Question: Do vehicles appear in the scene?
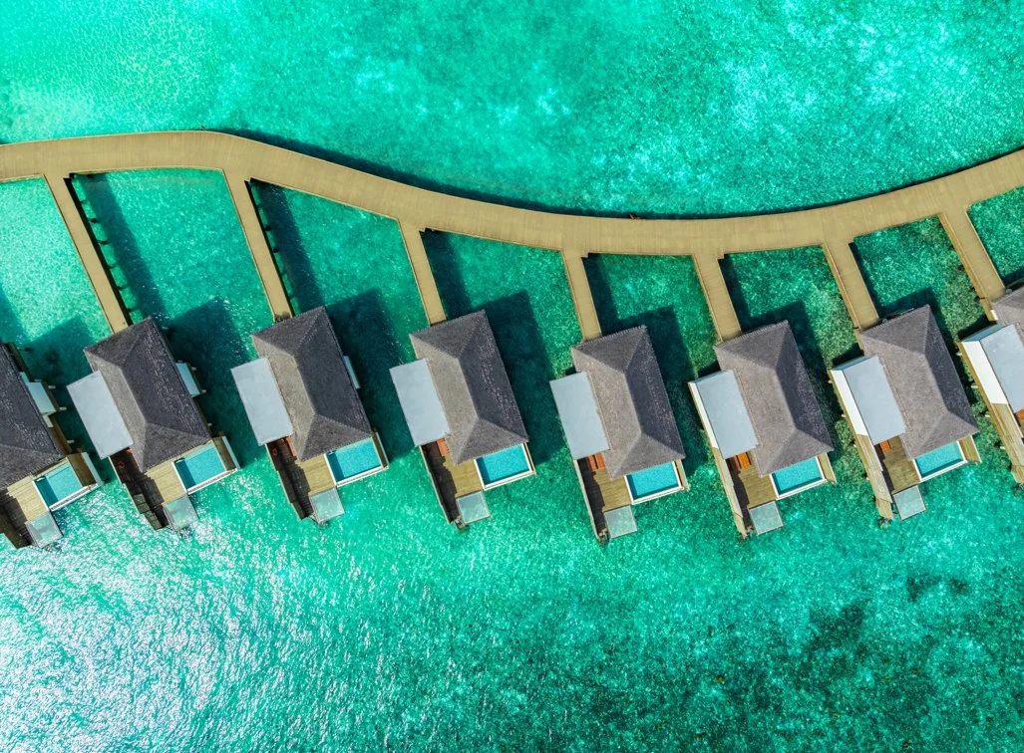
No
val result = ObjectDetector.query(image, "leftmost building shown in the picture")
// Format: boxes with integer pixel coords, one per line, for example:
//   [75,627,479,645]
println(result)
[0,334,108,550]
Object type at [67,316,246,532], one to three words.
house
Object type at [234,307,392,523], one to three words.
house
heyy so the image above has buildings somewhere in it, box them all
[954,275,1024,477]
[689,321,834,536]
[826,305,982,522]
[551,326,687,539]
[392,310,538,526]
[234,307,392,523]
[0,334,108,550]
[67,316,246,532]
